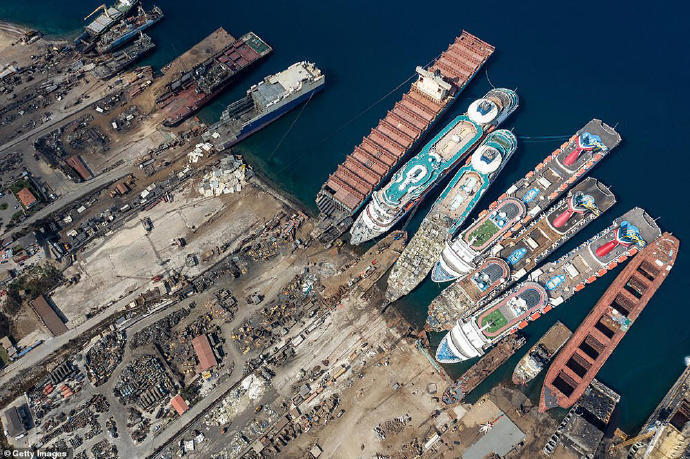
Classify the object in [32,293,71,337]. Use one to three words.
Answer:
building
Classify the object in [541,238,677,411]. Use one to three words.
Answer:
ship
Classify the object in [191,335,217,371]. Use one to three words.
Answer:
shed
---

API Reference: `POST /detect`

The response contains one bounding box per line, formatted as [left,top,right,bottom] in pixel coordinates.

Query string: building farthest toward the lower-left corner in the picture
[4,406,30,437]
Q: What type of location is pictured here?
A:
port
